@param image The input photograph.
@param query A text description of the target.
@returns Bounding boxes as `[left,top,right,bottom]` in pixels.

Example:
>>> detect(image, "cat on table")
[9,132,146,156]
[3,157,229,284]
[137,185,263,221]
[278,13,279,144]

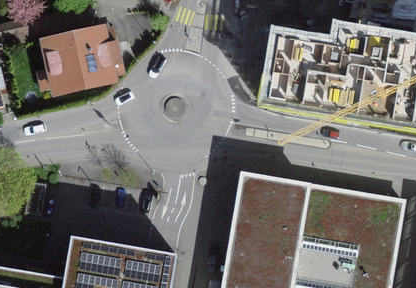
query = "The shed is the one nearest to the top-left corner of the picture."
[0,19,29,44]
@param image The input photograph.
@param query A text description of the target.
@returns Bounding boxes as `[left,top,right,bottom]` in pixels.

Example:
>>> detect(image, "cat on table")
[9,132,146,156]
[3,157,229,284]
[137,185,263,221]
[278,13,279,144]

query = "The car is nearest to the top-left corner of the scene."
[24,122,46,134]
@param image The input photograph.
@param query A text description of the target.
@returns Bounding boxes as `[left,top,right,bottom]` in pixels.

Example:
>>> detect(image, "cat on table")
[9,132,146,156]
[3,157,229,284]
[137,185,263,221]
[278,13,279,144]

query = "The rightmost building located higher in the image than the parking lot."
[37,24,126,96]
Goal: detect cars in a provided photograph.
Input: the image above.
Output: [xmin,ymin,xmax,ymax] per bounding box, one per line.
[24,122,46,134]
[400,140,416,151]
[142,189,153,214]
[90,184,102,207]
[149,52,166,76]
[114,90,136,104]
[319,126,341,138]
[116,186,126,208]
